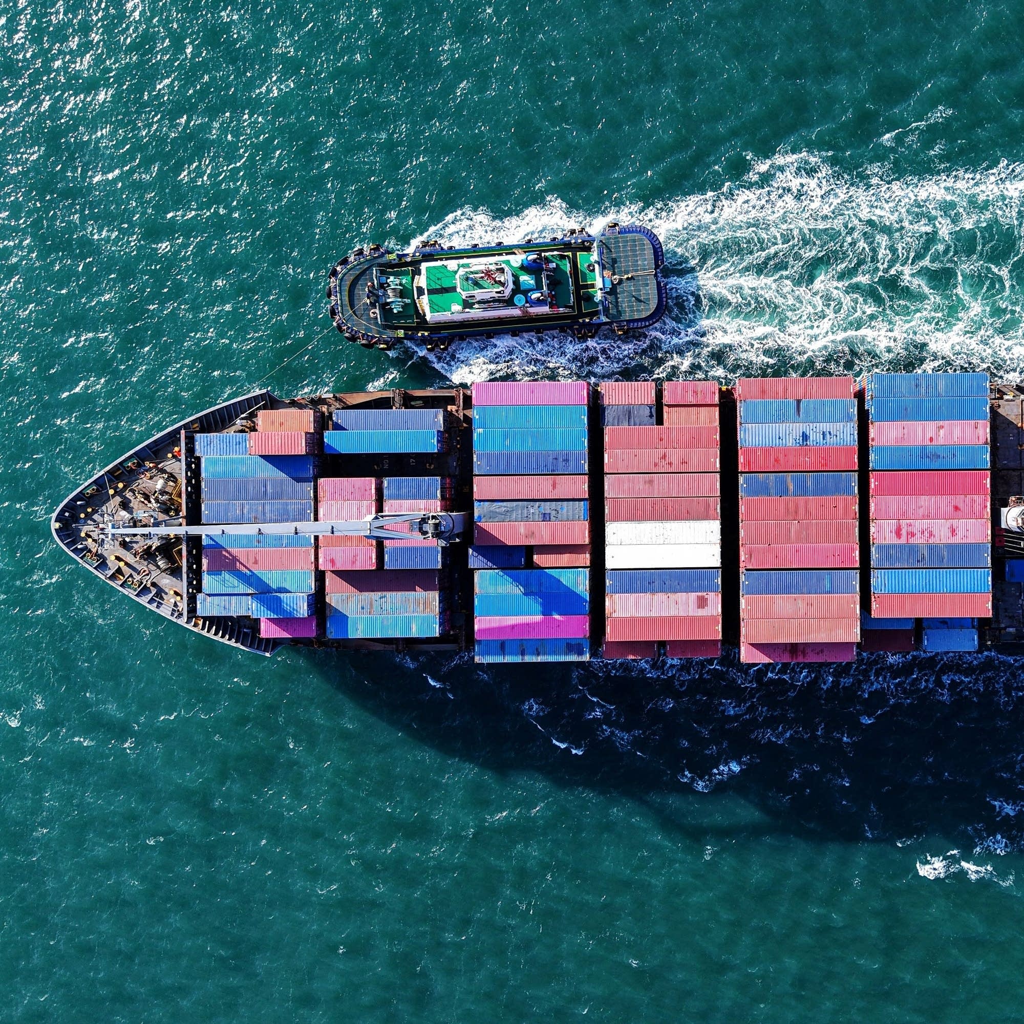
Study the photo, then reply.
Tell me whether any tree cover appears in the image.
No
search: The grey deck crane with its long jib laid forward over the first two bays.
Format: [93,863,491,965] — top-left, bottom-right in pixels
[108,508,475,547]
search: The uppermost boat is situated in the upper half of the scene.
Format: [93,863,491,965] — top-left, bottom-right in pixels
[323,222,667,352]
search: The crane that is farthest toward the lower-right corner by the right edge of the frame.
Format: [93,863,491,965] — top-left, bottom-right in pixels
[990,491,1024,554]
